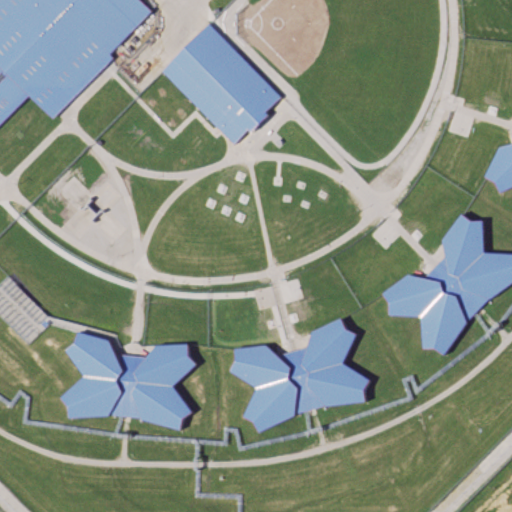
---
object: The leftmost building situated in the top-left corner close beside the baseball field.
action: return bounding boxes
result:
[0,0,153,126]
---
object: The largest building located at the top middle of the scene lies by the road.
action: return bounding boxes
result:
[164,26,282,144]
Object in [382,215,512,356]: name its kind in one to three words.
building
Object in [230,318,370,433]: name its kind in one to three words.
building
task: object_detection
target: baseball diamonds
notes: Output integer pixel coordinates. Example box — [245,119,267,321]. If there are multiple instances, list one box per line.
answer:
[238,0,441,162]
